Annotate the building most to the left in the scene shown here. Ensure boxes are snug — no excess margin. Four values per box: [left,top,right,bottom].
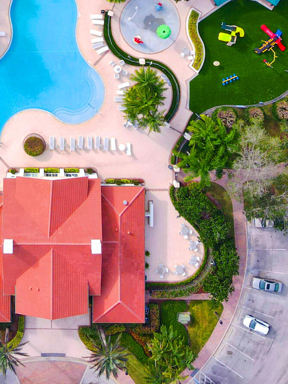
[0,171,154,324]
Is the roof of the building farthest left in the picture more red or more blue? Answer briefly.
red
